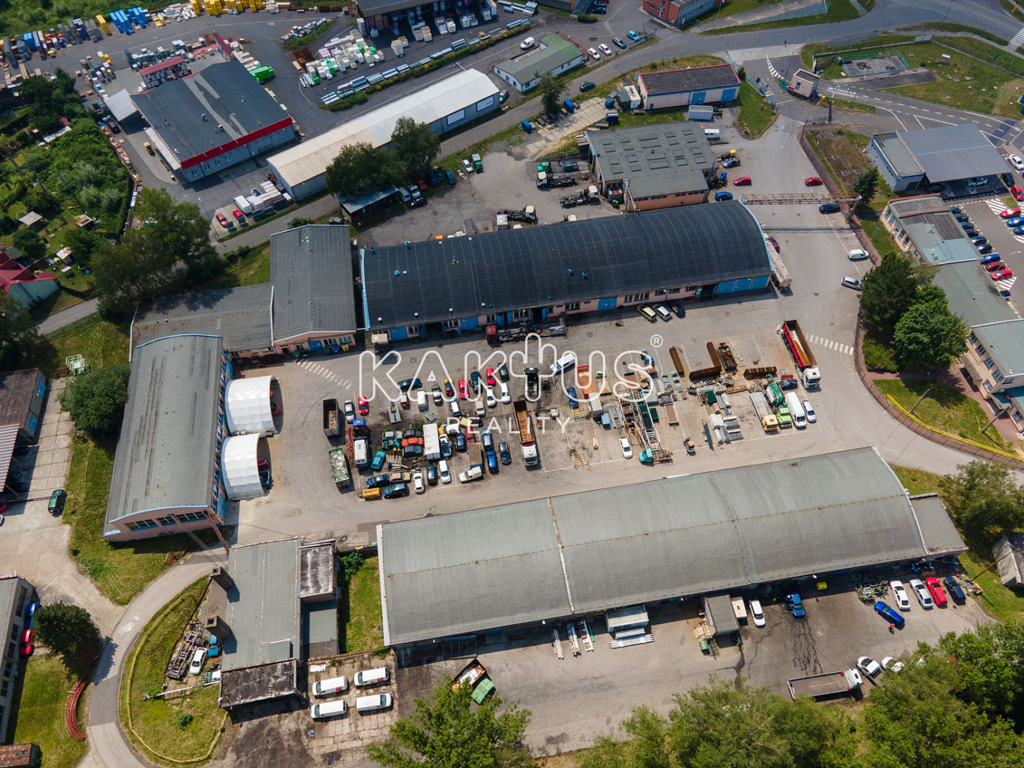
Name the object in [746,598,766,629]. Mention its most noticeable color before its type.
white car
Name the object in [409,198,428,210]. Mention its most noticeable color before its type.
black vehicle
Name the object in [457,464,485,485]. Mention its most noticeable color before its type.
white truck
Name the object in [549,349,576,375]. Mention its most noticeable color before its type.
white vehicle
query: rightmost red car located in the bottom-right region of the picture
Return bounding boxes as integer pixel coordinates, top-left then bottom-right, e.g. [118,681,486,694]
[924,578,948,608]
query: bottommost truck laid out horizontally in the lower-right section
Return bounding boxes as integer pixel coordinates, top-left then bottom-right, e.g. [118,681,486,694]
[785,664,870,699]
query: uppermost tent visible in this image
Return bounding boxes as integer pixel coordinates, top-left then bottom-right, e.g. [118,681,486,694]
[225,381,280,438]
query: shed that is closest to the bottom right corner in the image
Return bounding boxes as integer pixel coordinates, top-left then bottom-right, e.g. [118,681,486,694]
[977,541,1024,588]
